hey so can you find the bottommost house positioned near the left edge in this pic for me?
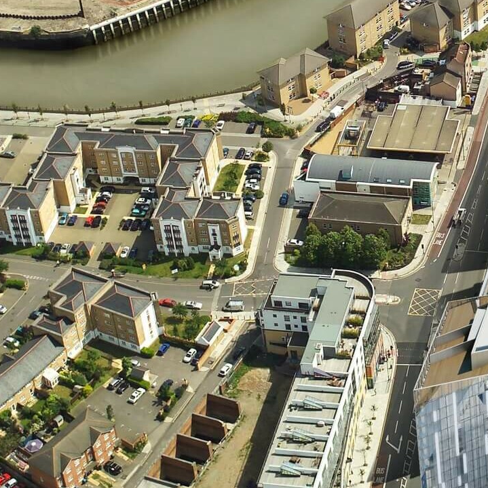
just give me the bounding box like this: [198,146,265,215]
[24,409,122,488]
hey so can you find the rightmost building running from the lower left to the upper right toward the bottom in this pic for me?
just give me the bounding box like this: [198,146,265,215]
[192,318,228,353]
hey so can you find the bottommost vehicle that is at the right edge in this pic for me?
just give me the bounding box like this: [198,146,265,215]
[451,203,466,224]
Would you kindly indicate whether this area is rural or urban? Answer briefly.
urban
